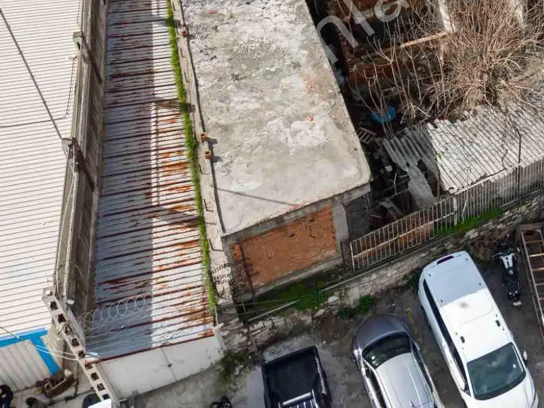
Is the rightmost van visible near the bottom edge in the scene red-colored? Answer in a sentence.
No, the rightmost van visible near the bottom edge is white.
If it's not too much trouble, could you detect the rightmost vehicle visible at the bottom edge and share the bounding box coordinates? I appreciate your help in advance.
[414,247,543,408]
